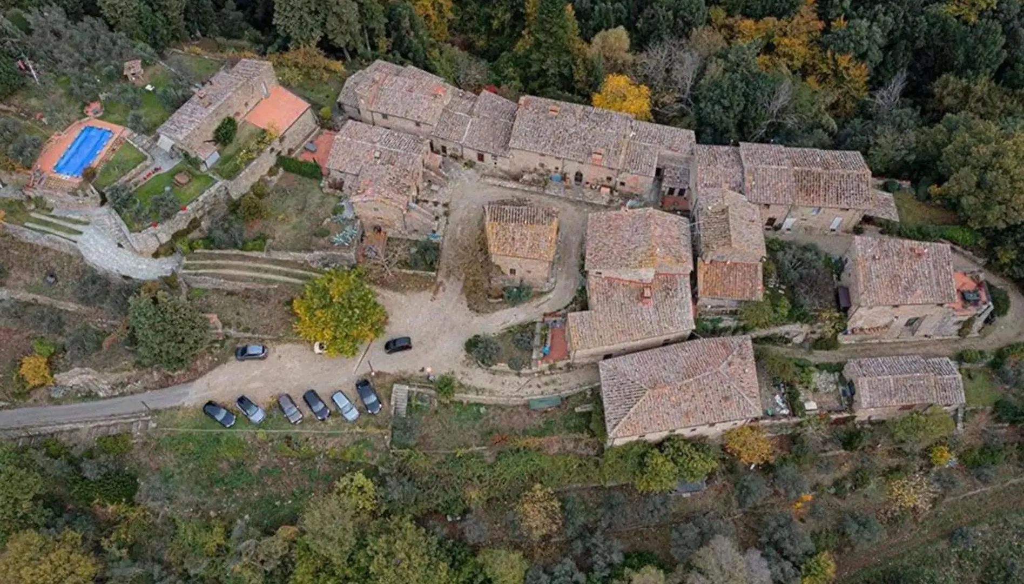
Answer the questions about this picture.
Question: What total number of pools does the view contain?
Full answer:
The count comes to 1 pool.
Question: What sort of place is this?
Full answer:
What you see here is a residential area.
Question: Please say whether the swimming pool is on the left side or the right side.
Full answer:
The swimming pool sits on the left side.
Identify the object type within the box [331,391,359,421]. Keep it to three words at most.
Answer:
car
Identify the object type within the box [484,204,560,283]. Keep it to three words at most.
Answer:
house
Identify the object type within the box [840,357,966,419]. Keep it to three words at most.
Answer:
barn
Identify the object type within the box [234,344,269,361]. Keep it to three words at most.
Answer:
car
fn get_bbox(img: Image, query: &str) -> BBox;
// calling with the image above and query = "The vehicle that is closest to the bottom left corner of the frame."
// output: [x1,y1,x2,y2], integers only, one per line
[202,400,236,427]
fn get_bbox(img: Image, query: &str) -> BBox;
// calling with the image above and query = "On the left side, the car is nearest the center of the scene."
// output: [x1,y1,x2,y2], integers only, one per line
[385,337,412,354]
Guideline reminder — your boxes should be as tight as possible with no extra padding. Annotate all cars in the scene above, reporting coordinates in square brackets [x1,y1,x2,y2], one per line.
[202,400,236,427]
[303,390,330,420]
[236,395,265,423]
[357,379,382,414]
[276,393,303,423]
[385,337,412,354]
[331,391,359,421]
[234,344,269,361]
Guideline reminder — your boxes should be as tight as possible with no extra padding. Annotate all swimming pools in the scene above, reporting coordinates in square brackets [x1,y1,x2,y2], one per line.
[50,125,117,180]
